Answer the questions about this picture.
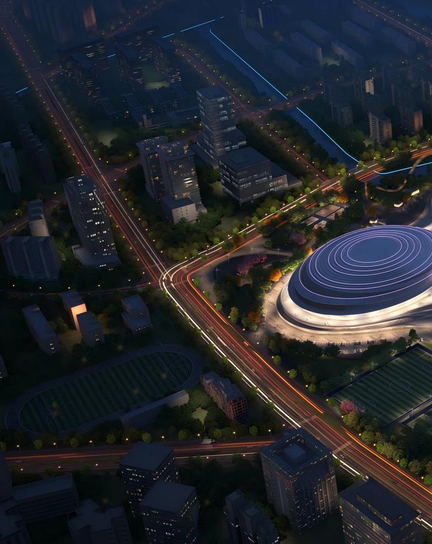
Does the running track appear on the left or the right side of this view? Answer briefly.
left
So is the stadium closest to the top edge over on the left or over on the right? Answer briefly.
right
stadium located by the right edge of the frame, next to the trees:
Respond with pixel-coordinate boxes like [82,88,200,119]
[288,225,432,316]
